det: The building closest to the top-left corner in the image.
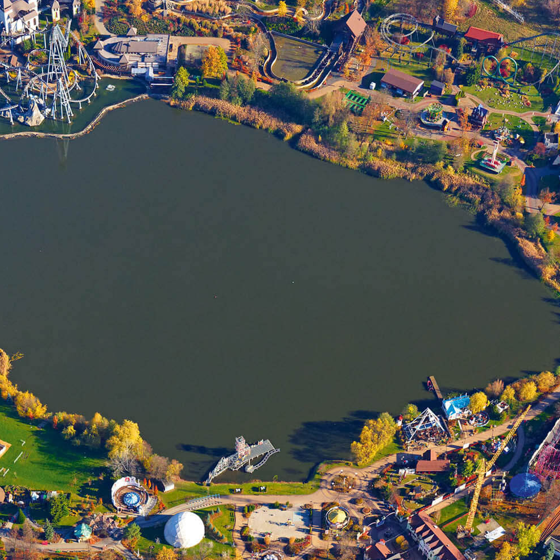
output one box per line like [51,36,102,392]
[0,0,42,34]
